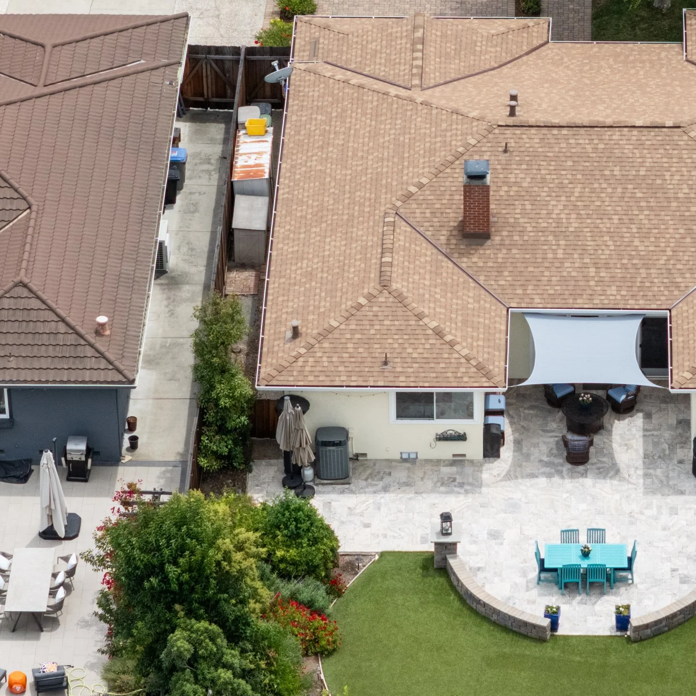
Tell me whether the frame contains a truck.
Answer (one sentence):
No, I can't see a single truck in this photo.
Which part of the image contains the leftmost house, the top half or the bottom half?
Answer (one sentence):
The leftmost house is in the top half of the image.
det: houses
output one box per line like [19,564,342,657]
[252,8,696,459]
[0,9,193,462]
